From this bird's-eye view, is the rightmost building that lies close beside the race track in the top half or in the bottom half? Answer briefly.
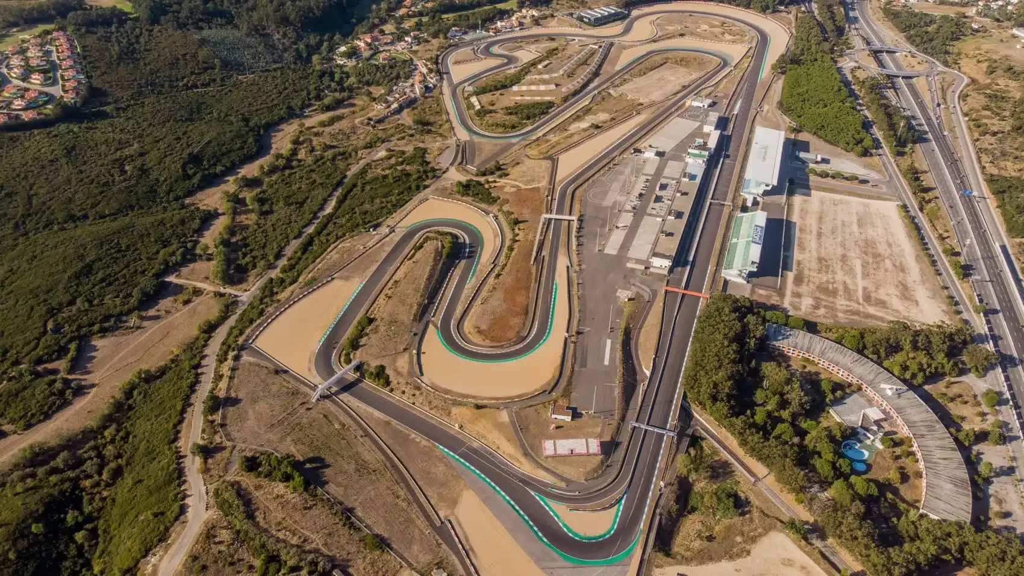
bottom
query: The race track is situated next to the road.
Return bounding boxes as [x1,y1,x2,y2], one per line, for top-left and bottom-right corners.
[315,10,769,560]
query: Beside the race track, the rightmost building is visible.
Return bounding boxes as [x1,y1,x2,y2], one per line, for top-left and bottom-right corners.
[765,323,972,531]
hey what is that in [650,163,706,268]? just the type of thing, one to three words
building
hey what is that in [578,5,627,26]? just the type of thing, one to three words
shed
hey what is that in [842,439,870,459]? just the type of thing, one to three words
swimming pool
